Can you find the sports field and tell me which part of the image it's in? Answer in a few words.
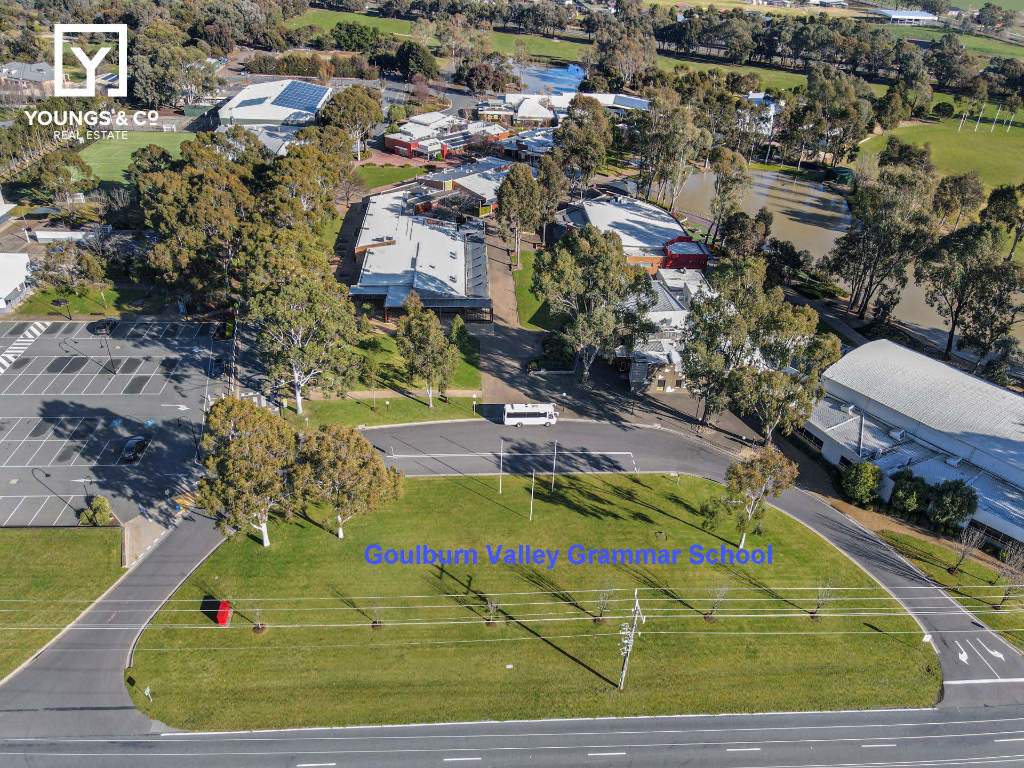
top right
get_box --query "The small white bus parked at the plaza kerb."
[505,399,559,425]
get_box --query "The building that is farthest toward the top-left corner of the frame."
[0,62,63,91]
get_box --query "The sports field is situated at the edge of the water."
[859,115,1024,255]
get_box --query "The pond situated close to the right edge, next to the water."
[678,169,1024,375]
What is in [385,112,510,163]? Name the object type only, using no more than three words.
building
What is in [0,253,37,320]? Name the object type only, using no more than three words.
building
